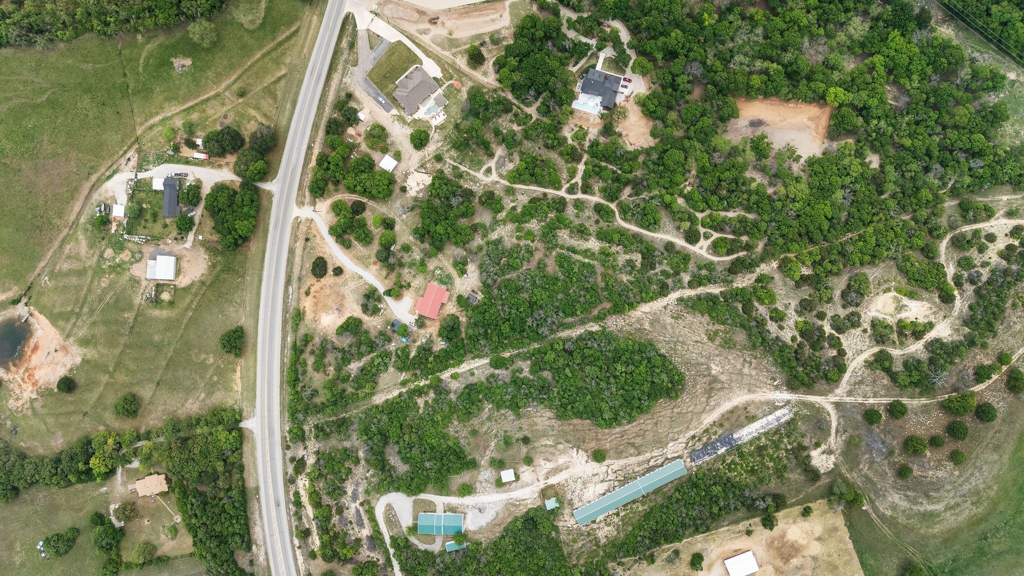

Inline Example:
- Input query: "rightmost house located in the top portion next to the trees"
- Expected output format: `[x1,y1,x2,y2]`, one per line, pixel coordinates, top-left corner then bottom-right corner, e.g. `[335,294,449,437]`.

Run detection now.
[581,68,623,113]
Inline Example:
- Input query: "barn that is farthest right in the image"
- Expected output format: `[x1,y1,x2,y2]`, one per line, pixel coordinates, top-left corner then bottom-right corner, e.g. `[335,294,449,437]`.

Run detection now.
[722,548,759,576]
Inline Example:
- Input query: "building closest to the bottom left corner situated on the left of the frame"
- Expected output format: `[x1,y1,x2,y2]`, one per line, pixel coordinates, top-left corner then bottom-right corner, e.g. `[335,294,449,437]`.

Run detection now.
[136,474,169,497]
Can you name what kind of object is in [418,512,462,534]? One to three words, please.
house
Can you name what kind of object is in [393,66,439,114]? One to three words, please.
house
